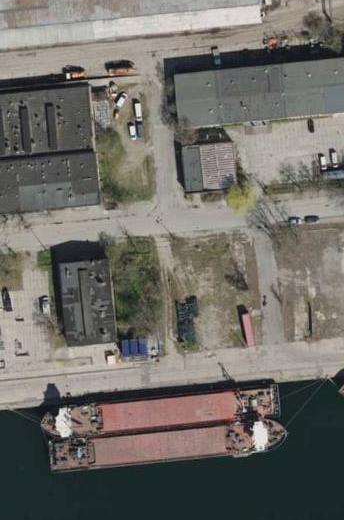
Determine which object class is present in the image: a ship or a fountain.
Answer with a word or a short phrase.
ship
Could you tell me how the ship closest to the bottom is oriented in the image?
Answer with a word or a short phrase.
from side to side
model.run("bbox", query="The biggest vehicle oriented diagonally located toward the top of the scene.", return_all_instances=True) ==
[114,92,128,109]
